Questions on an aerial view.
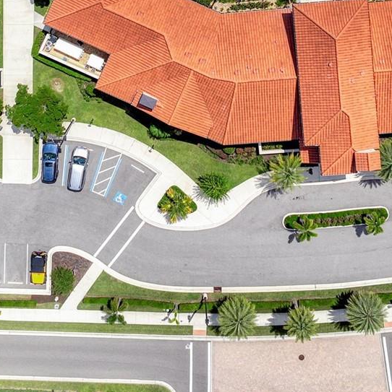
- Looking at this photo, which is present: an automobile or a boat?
automobile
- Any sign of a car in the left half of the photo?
Yes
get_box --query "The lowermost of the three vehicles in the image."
[28,253,46,288]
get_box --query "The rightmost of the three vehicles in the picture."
[67,148,88,192]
